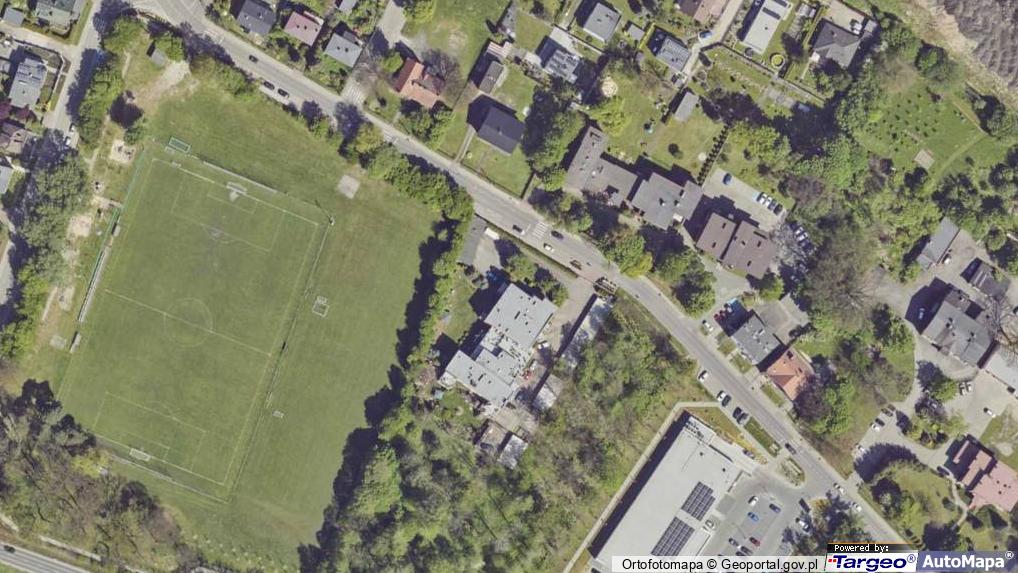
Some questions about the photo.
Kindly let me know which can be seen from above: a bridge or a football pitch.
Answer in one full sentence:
Of the two, only a football pitch appears.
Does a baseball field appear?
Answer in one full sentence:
No, no baseball field is visible in the scene.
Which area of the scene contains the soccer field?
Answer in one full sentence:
You can find the soccer field in the left area of the picture.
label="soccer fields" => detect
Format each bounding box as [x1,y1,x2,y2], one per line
[57,153,324,489]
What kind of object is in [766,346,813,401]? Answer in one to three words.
house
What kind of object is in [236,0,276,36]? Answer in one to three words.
house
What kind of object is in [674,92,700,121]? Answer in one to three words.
shed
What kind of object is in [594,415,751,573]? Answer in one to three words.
building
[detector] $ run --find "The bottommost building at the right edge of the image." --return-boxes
[949,441,1018,514]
